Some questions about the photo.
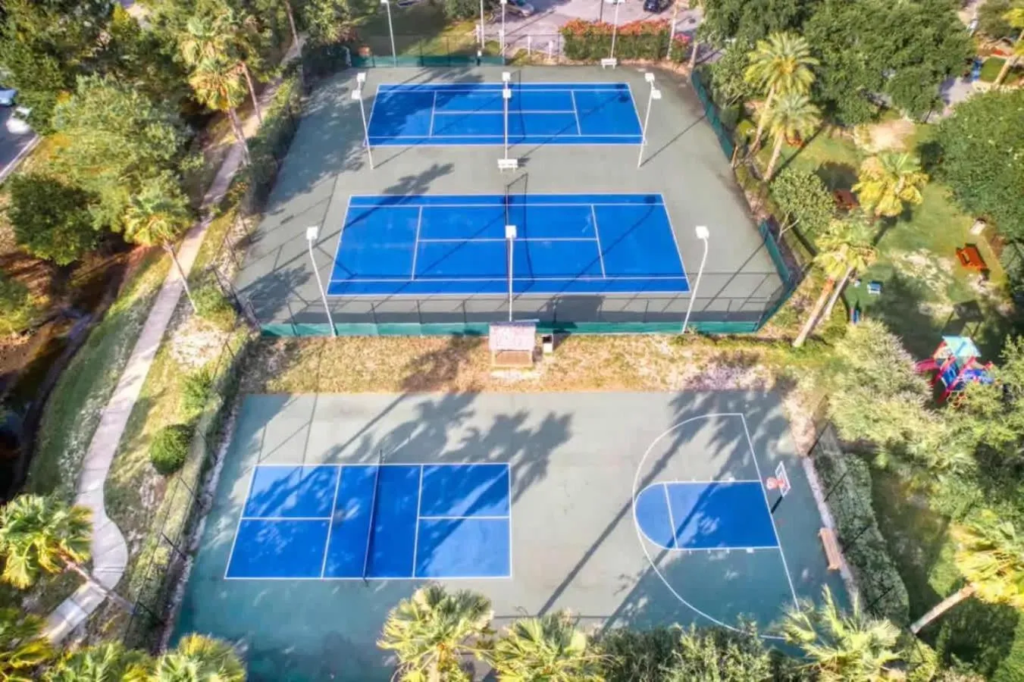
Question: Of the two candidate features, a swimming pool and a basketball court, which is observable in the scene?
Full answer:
It is a basketball court that can be seen here.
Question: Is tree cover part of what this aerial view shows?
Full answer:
Yes, some tree cover is visible.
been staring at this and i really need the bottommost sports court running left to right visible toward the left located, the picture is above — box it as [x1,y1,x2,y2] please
[222,448,512,586]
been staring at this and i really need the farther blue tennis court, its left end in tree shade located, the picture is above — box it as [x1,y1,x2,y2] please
[363,67,646,146]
